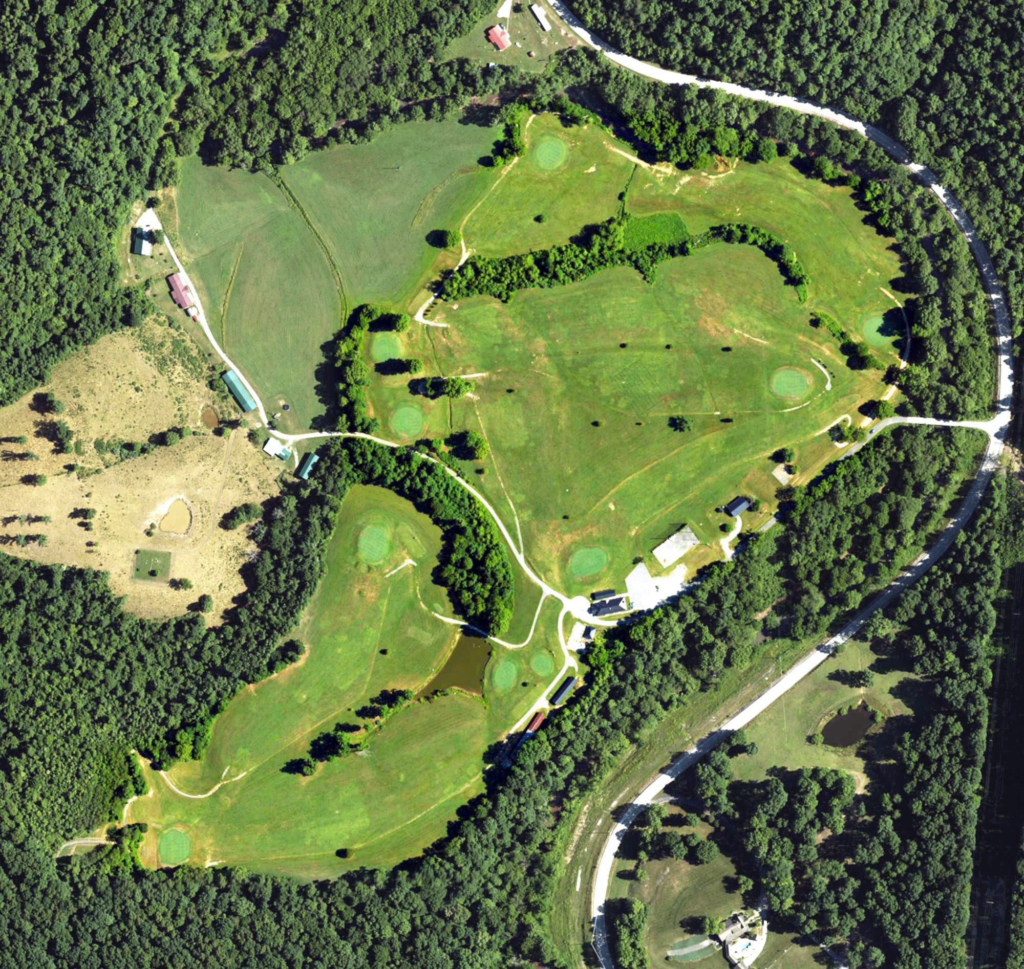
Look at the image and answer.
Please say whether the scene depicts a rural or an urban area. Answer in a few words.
rural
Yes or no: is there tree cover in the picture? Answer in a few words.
Yes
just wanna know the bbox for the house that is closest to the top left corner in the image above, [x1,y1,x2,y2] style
[133,227,150,255]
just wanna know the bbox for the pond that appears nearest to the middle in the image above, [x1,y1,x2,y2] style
[419,630,492,697]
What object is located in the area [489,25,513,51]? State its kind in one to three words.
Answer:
house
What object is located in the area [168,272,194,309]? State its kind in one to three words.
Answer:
house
